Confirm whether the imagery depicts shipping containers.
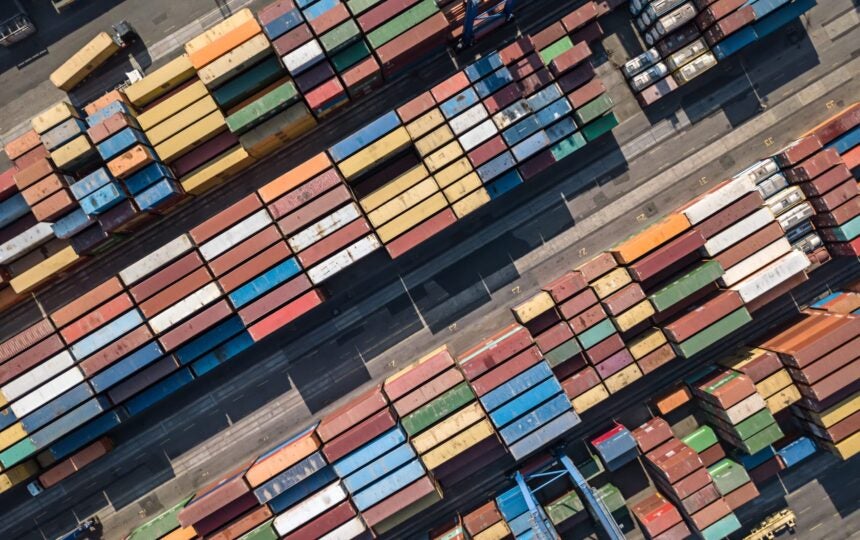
Yes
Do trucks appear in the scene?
Yes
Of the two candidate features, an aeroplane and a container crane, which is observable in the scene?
container crane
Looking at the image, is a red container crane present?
No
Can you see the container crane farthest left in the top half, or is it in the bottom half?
top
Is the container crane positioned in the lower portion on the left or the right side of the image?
right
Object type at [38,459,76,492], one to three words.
shipping container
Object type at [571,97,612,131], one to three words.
shipping container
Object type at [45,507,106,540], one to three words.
truck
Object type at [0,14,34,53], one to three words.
trailer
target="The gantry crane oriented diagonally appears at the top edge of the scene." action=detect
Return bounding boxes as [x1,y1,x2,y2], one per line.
[450,0,524,53]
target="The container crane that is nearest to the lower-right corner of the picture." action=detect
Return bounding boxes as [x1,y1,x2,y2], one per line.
[499,436,634,540]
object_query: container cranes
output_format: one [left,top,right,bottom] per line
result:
[450,0,524,53]
[499,436,634,540]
